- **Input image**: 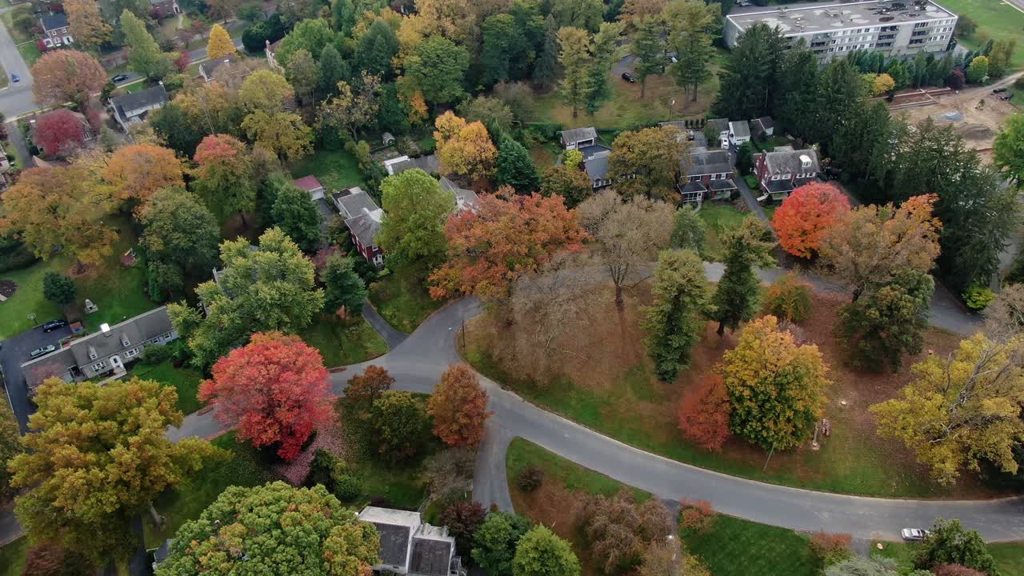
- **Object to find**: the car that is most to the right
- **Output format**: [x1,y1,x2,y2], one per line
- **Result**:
[900,527,934,543]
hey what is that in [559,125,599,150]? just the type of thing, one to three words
building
